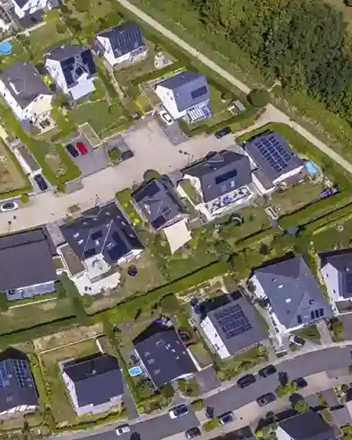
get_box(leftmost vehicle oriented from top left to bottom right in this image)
[35,173,48,190]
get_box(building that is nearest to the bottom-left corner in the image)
[0,357,39,414]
